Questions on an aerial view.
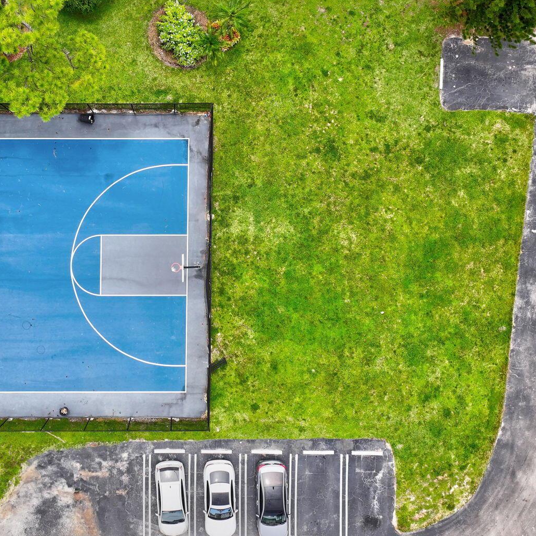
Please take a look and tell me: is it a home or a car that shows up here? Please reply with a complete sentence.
This aerial view contains a car.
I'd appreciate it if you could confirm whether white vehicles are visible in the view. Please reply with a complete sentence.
Yes, there is a white vehicle in the image.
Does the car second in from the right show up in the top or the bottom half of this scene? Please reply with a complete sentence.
The bottom half of the photo is where the car second in from the right is.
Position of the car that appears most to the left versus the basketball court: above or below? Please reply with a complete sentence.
Looking at the photo, you'll find the car that appears most to the left below the basketball court.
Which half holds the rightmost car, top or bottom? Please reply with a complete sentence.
The rightmost car is in the bottom half of the image.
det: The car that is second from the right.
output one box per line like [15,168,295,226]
[202,459,240,536]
